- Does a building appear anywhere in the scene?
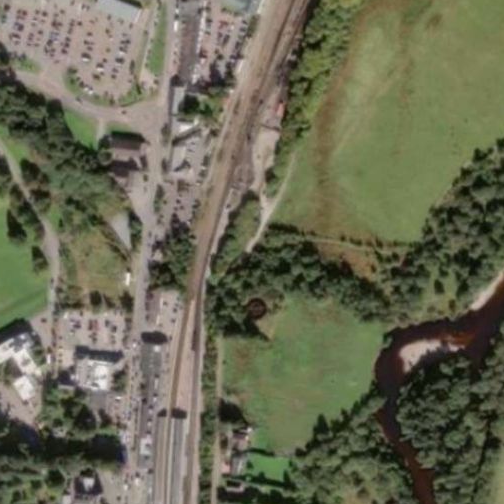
Yes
